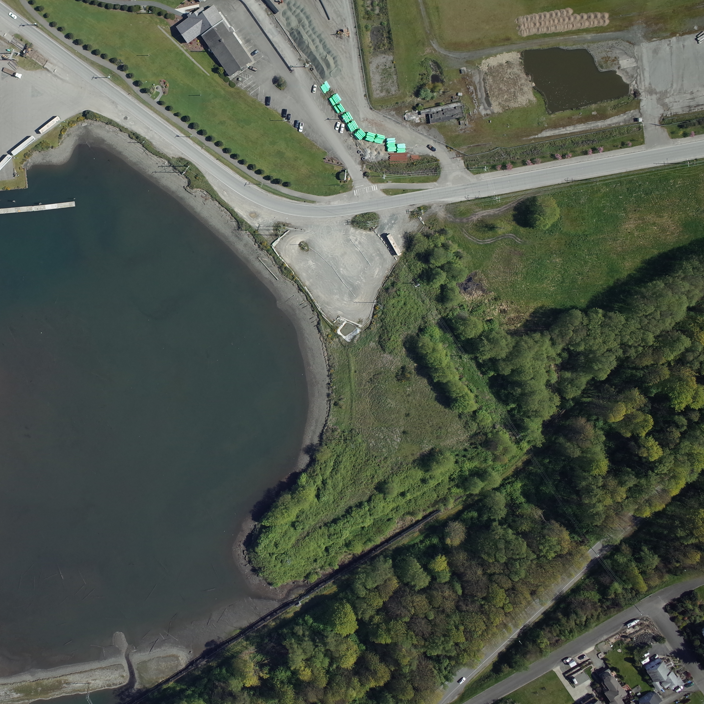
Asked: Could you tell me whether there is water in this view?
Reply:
Yes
